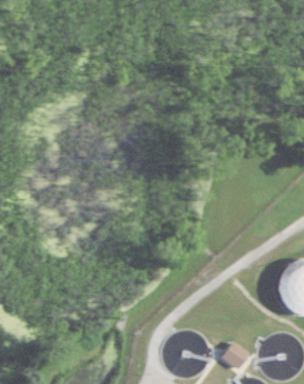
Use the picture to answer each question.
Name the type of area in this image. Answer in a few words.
industrial area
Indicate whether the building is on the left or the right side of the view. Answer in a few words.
right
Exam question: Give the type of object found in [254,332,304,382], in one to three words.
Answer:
storage tank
